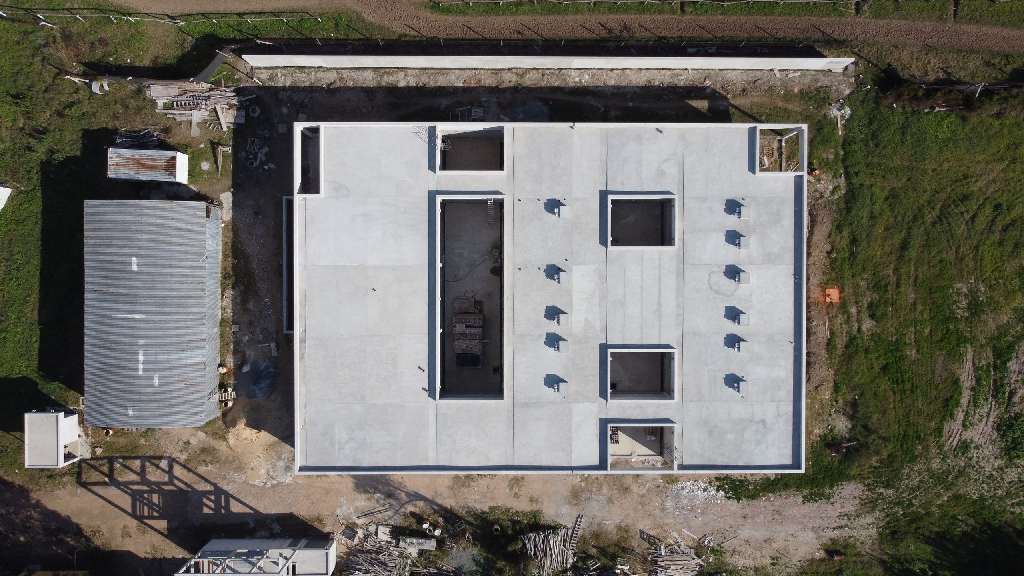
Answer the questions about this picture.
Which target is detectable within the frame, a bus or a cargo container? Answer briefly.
cargo container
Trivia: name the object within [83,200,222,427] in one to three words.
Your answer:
shed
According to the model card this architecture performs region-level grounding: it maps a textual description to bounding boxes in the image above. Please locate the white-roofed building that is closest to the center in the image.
[294,123,808,474]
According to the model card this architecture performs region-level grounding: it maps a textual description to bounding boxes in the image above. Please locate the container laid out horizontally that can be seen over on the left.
[107,148,189,184]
